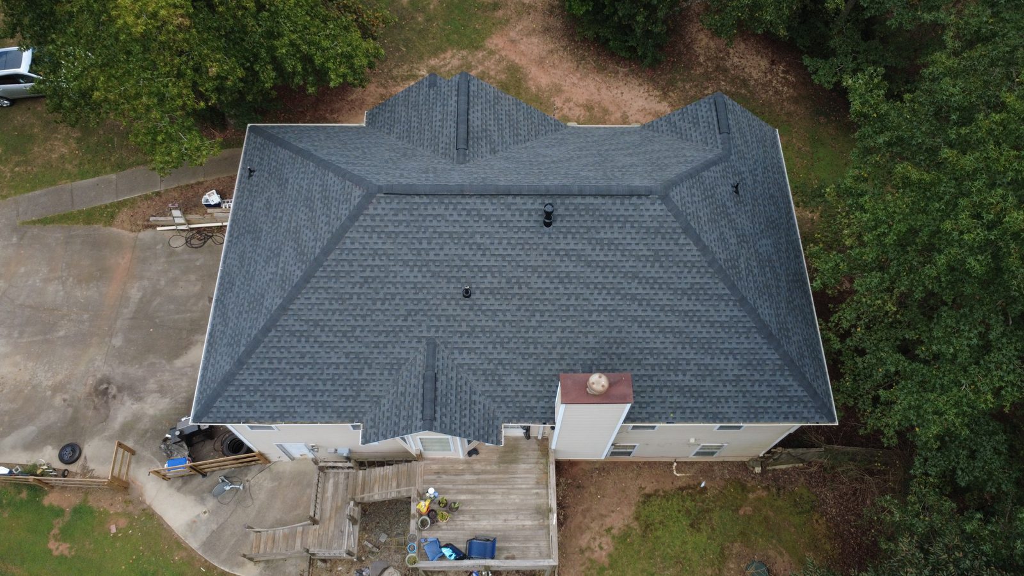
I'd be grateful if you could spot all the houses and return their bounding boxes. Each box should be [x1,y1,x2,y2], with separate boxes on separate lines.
[189,71,839,467]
